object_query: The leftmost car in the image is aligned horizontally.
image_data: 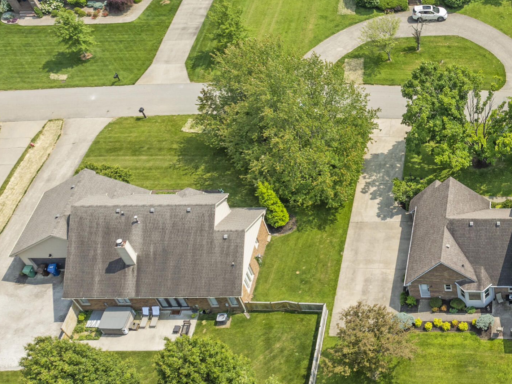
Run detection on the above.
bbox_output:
[412,2,449,20]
